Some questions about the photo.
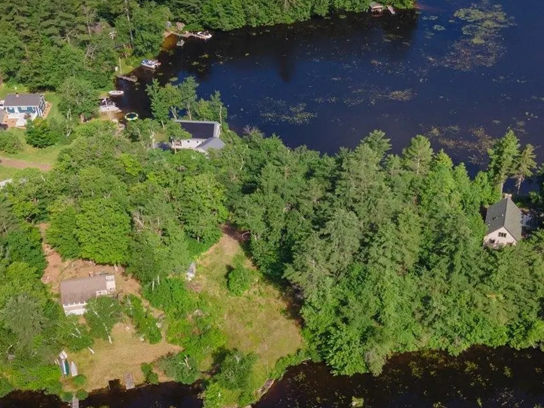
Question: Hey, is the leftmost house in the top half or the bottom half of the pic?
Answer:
top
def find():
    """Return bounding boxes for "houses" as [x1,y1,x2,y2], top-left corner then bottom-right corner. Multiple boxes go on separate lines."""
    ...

[4,92,44,119]
[479,193,536,252]
[173,119,225,158]
[62,270,119,316]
